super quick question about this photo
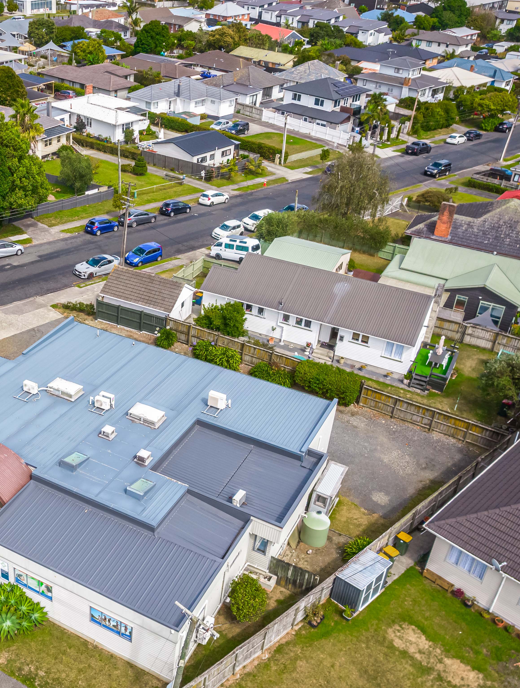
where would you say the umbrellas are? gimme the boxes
[437,335,446,355]
[18,39,37,49]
